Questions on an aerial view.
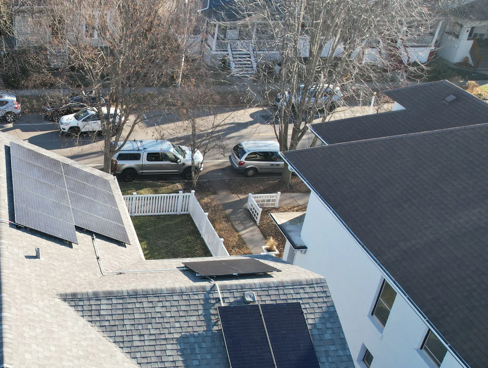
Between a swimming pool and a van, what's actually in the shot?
van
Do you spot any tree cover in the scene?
Yes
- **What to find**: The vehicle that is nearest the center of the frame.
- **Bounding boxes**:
[225,136,286,175]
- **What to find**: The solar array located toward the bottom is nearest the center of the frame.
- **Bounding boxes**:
[182,258,282,278]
